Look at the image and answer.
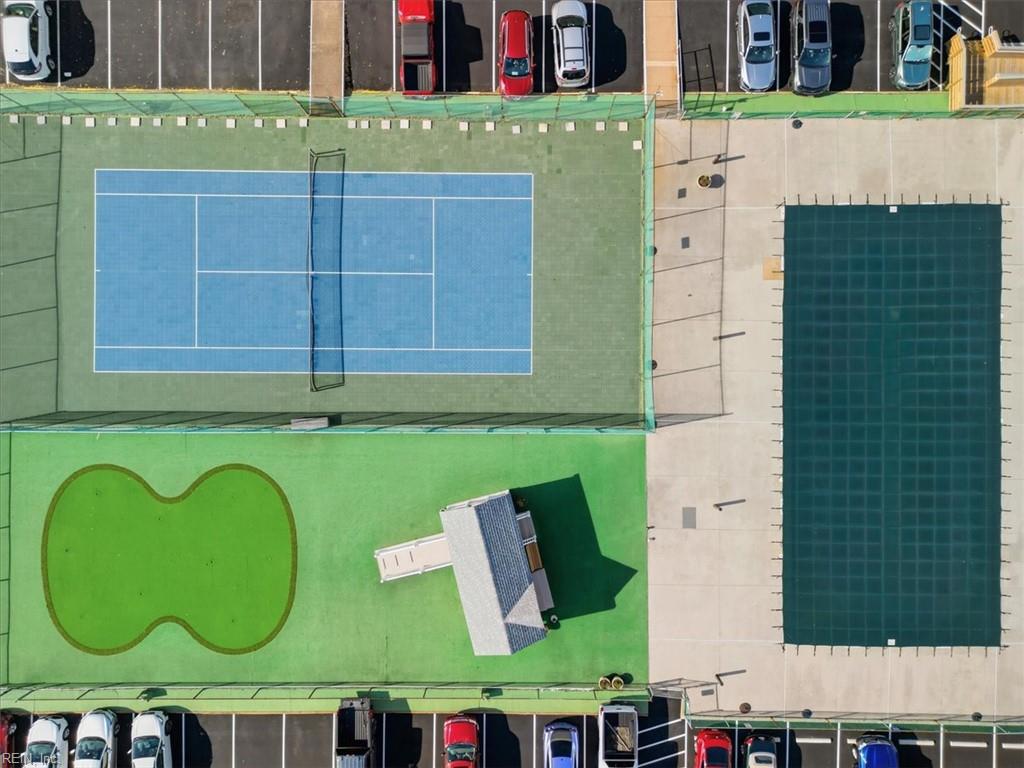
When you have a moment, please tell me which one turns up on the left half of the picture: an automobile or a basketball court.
automobile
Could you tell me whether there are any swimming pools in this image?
Yes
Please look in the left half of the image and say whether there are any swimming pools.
No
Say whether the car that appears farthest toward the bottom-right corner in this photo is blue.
Yes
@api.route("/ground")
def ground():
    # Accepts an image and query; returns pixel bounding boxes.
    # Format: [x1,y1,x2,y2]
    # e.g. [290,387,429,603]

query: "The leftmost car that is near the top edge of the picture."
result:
[3,0,54,84]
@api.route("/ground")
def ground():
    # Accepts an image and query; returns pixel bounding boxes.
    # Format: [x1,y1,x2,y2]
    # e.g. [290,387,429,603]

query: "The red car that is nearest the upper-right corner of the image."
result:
[496,8,536,99]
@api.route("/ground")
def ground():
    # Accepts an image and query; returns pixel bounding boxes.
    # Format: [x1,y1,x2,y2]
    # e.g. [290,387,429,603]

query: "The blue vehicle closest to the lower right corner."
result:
[852,733,894,768]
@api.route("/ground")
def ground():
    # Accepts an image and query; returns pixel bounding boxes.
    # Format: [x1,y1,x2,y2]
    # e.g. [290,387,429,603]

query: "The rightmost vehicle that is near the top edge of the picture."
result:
[886,0,934,93]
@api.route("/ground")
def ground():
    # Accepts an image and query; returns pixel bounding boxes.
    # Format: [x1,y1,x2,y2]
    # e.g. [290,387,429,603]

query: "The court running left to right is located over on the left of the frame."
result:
[0,113,647,430]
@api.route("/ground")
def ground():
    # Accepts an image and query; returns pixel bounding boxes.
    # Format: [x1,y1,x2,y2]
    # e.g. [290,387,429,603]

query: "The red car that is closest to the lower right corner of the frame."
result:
[693,726,731,768]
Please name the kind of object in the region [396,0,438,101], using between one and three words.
truck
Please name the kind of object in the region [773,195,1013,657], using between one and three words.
swimming pool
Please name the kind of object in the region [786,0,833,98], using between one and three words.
car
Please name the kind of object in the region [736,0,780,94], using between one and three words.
car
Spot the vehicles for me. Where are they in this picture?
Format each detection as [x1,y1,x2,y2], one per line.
[852,733,894,768]
[0,710,17,768]
[693,726,731,768]
[337,699,376,768]
[597,700,637,768]
[550,0,593,89]
[543,721,578,768]
[22,712,71,768]
[886,0,934,93]
[496,8,536,99]
[786,0,833,98]
[441,712,481,768]
[737,732,776,768]
[126,707,173,768]
[3,0,54,84]
[736,0,780,94]
[71,707,119,768]
[396,0,438,101]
